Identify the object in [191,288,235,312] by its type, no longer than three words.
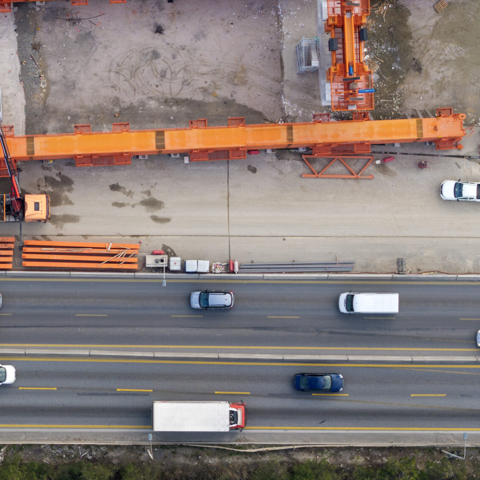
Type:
car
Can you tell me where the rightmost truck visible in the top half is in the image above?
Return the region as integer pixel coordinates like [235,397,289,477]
[439,179,480,202]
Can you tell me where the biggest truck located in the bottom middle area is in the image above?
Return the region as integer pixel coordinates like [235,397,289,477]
[152,402,246,435]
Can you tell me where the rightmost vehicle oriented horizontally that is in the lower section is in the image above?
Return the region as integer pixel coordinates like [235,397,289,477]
[337,291,400,316]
